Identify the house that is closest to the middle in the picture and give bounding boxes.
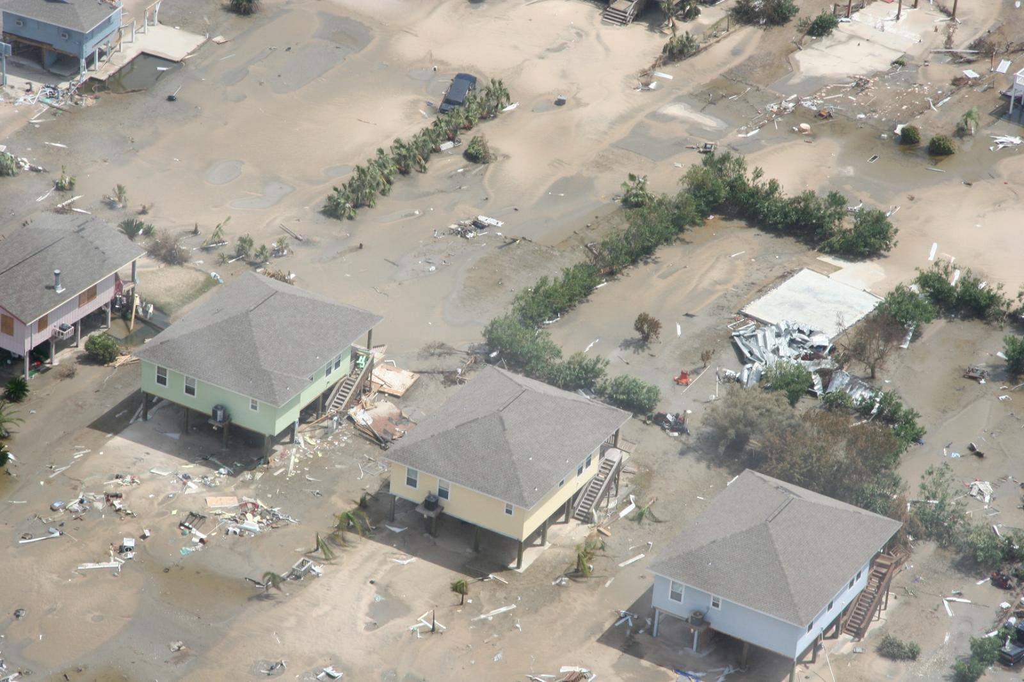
[383,365,635,570]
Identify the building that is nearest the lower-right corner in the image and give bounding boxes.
[645,469,905,682]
